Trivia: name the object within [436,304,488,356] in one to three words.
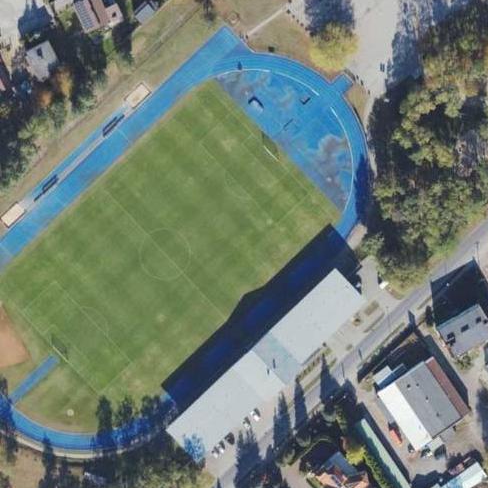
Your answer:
house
